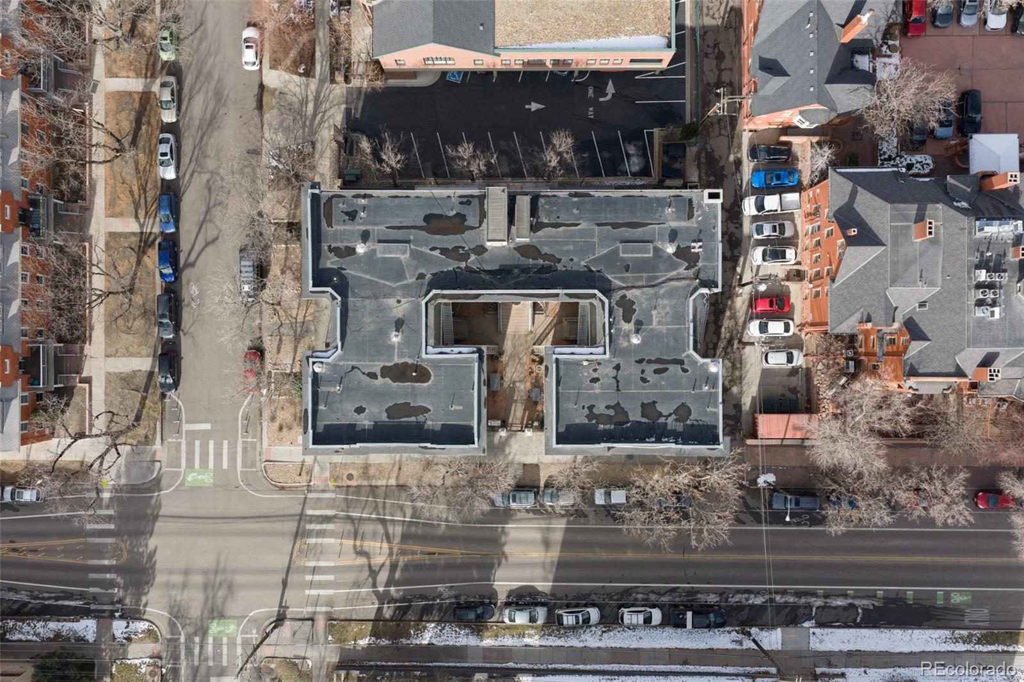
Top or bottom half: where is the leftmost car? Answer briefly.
bottom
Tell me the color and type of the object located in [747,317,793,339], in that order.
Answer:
white car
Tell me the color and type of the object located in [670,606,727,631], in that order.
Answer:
black truck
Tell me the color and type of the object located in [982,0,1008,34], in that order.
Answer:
white car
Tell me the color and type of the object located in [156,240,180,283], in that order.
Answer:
blue car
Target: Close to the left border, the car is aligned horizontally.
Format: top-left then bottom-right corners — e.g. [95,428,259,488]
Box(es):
[3,484,47,506]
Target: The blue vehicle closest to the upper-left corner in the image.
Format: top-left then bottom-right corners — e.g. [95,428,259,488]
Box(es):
[157,194,179,234]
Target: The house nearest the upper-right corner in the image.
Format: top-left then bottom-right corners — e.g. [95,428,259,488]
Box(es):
[741,0,916,141]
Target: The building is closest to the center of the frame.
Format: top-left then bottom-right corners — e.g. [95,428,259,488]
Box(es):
[303,183,730,456]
